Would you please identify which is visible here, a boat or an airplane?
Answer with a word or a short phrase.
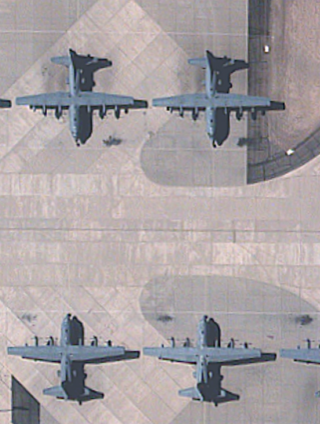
airplane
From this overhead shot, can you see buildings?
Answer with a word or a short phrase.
No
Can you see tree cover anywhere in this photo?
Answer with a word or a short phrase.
No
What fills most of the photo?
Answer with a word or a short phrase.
paved ground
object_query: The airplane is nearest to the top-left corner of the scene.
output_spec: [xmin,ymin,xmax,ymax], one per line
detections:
[16,48,134,141]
